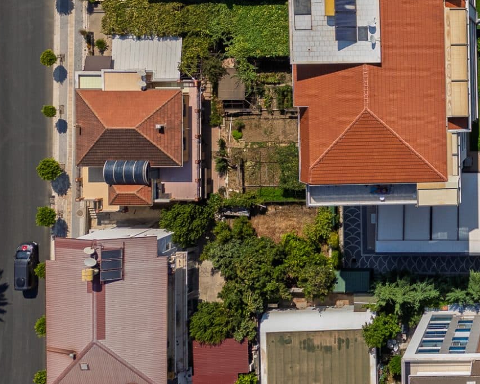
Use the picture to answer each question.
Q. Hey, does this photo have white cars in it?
No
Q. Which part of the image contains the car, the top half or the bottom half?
bottom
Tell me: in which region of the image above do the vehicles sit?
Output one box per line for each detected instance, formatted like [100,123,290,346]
[12,245,40,290]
